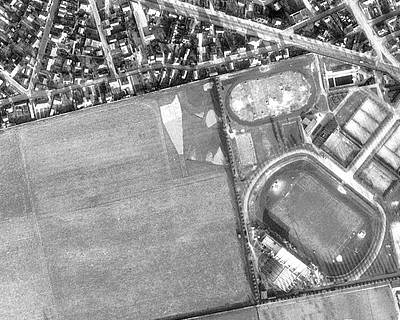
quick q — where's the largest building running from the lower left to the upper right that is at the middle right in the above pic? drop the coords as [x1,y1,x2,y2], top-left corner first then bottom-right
[312,121,339,148]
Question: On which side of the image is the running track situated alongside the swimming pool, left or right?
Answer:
right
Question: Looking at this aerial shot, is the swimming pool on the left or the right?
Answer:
right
